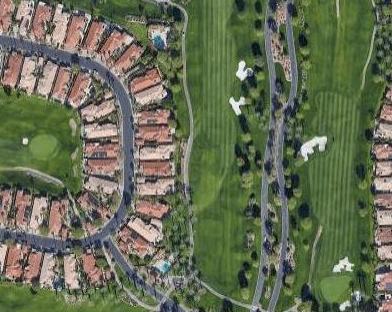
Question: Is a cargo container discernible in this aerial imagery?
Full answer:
No, the scene contains no cargo container.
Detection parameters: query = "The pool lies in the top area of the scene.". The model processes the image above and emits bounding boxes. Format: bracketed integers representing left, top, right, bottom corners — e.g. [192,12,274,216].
[151,27,169,54]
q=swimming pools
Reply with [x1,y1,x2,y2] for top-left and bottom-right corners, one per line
[151,27,169,54]
[155,259,172,274]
